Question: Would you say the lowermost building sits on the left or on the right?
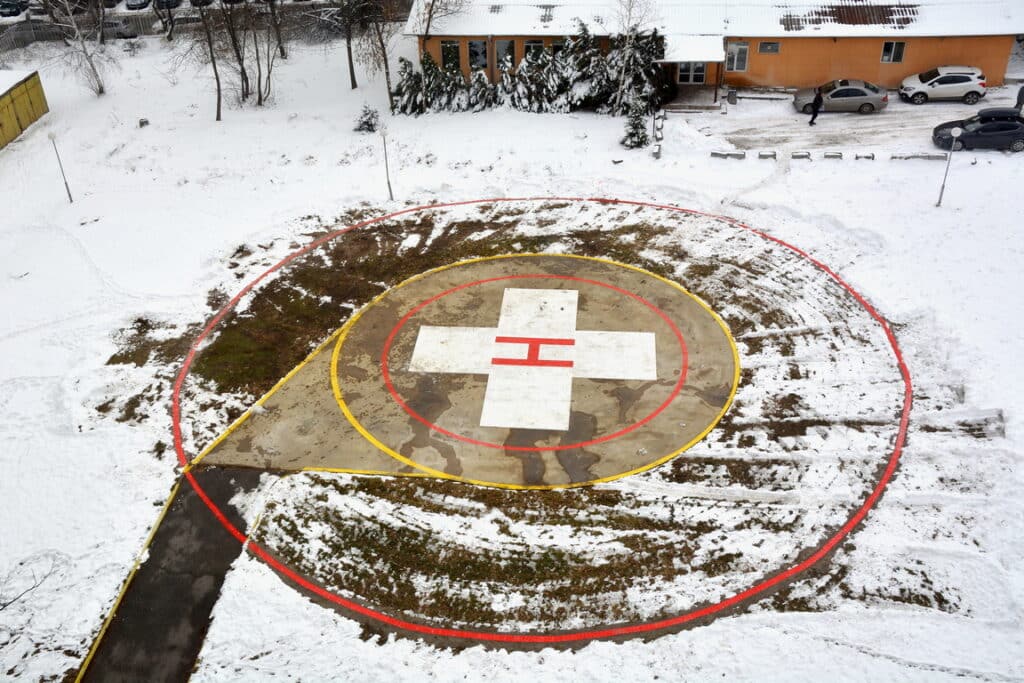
left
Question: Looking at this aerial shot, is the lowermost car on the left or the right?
right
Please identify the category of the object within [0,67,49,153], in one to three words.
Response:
building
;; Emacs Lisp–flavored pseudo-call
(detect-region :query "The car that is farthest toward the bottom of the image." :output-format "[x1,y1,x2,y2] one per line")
[934,113,1024,151]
